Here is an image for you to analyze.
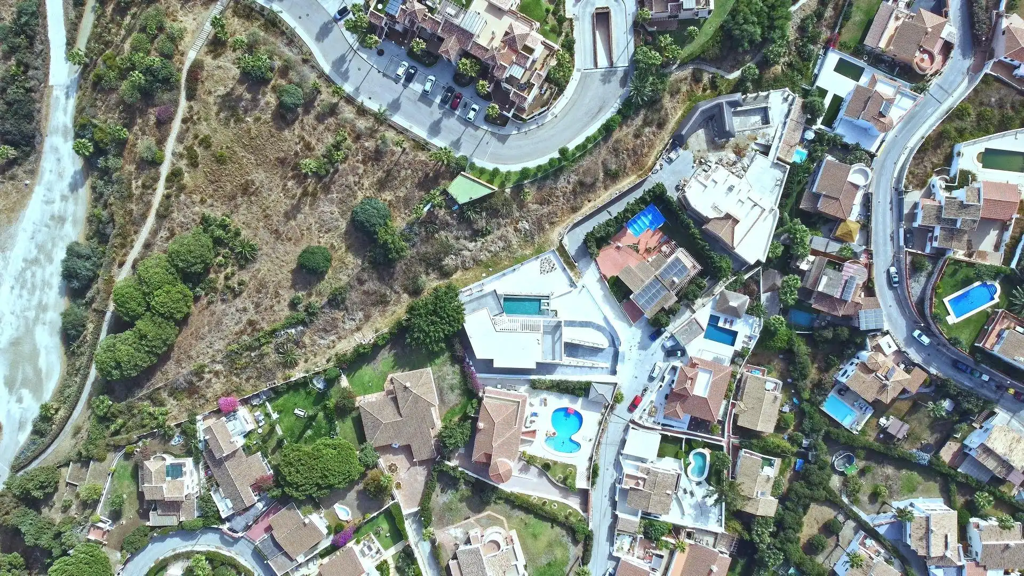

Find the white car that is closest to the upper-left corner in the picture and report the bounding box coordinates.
[395,60,410,79]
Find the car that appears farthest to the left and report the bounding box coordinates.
[250,498,268,514]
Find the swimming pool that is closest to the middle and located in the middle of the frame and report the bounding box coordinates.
[502,297,543,316]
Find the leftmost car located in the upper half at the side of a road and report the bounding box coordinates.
[334,5,351,22]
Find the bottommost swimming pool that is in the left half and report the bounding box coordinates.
[333,504,352,520]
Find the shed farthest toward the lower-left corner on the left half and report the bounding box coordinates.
[87,515,120,543]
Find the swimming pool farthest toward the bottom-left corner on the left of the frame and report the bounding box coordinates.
[167,464,184,479]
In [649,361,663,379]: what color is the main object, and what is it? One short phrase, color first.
white car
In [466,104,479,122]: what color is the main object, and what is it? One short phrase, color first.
white vehicle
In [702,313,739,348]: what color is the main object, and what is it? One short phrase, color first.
blue swimming pool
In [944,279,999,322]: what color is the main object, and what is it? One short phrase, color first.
blue swimming pool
